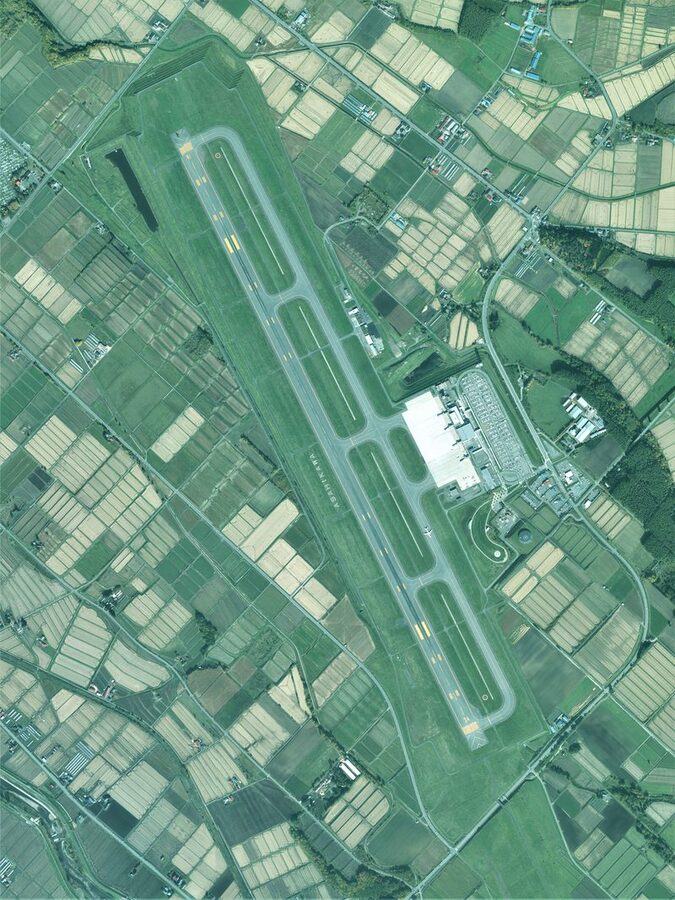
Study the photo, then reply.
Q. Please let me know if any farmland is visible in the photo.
Yes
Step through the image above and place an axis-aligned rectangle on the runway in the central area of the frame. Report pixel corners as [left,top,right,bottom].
[171,127,485,751]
